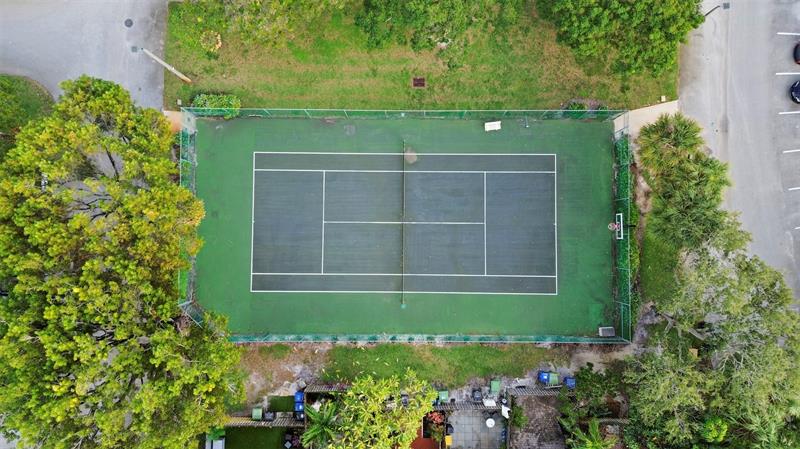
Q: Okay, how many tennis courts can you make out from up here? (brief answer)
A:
1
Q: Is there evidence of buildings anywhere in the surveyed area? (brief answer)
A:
No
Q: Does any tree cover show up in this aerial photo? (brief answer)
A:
Yes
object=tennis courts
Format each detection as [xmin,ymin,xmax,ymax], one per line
[193,116,616,337]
